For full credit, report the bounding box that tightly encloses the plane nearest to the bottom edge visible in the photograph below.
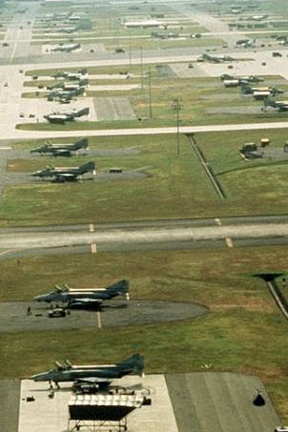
[29,355,145,390]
